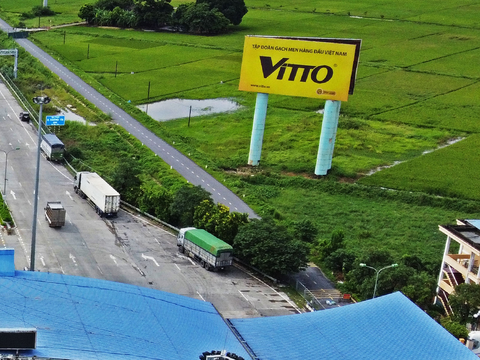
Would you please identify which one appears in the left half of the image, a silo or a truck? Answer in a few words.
truck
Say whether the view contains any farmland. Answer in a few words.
Yes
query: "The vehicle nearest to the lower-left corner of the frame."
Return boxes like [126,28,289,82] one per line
[47,202,65,225]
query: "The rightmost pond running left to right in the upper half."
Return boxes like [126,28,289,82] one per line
[136,98,241,120]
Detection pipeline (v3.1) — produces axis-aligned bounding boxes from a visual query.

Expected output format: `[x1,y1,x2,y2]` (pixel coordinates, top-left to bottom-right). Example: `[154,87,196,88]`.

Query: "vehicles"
[47,202,65,225]
[174,228,231,268]
[21,111,30,120]
[75,175,119,217]
[41,135,62,158]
